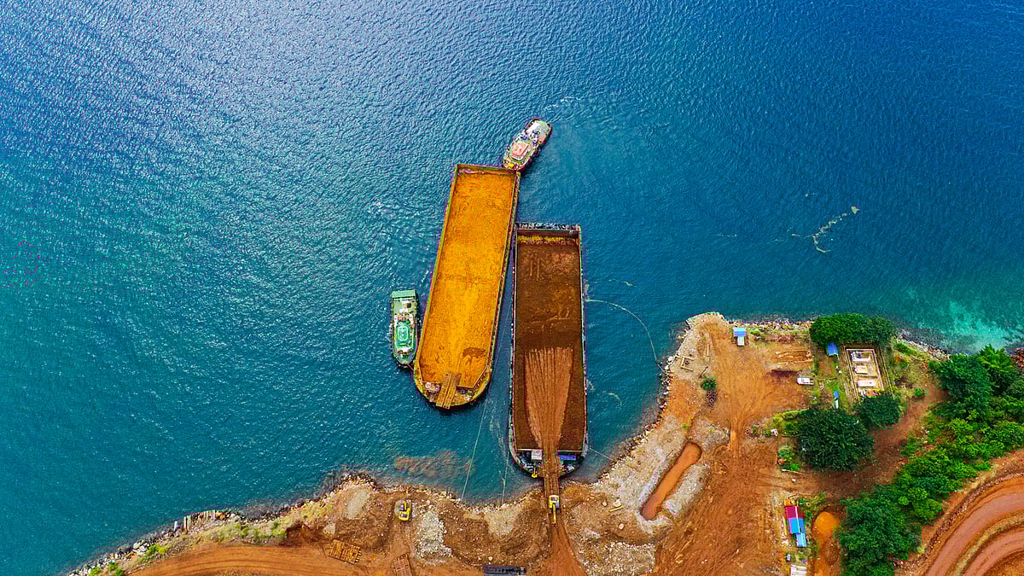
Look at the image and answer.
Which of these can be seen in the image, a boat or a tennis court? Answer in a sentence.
Visible in the photo is a boat.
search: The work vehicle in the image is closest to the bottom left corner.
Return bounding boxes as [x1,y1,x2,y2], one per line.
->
[397,495,410,522]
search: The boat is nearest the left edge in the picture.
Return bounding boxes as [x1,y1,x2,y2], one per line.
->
[390,288,420,368]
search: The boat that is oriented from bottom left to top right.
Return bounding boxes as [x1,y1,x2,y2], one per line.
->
[503,114,553,170]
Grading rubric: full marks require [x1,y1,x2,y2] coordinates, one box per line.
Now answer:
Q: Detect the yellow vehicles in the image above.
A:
[397,495,410,522]
[548,492,559,528]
